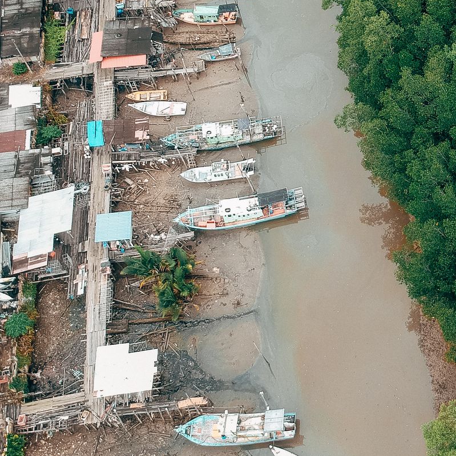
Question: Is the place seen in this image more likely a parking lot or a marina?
marina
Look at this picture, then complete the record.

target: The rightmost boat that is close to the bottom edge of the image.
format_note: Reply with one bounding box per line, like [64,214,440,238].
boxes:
[267,442,301,456]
